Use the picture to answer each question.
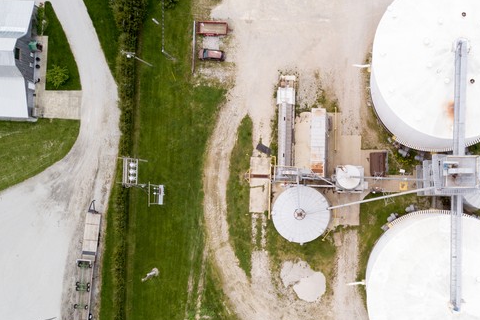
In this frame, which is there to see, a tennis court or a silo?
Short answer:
silo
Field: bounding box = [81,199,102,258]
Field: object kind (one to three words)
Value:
trailer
